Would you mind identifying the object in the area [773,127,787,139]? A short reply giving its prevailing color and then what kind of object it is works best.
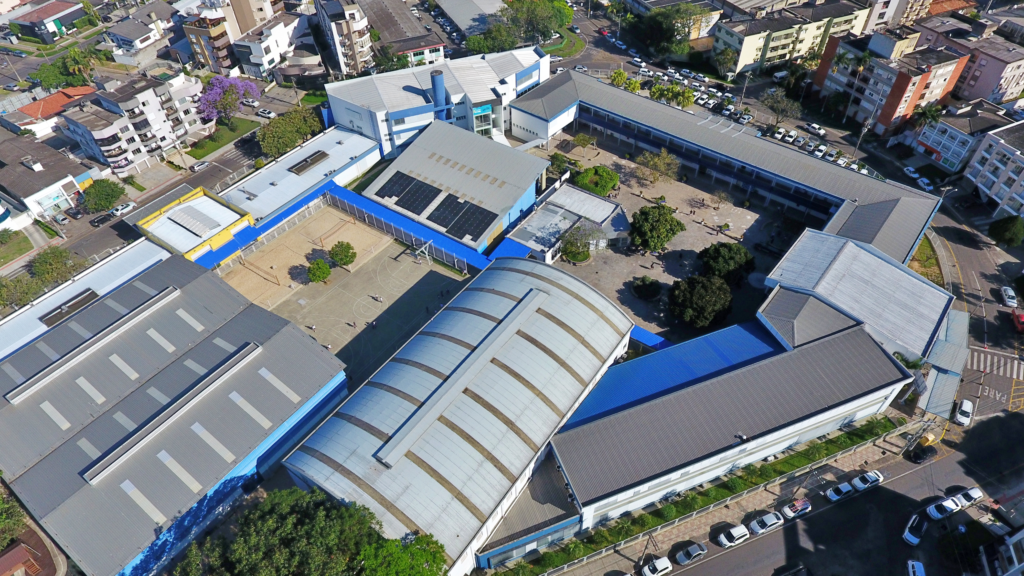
white vehicle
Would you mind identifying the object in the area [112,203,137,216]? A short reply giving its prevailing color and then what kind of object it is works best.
white vehicle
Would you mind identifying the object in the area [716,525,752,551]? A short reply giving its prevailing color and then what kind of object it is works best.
white car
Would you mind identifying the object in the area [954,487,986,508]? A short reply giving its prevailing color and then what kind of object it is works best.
white car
